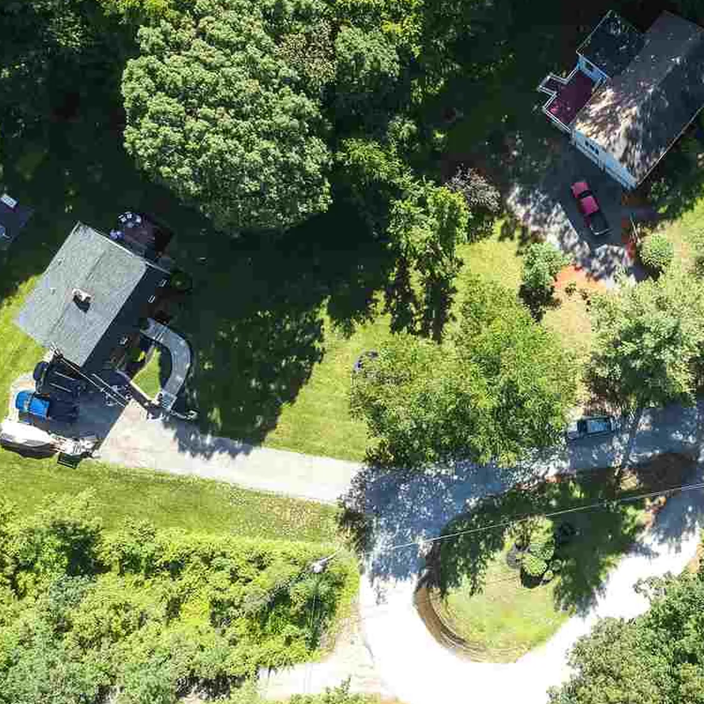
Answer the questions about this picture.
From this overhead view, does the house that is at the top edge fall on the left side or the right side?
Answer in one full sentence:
The house that is at the top edge appears in the right half of the scene.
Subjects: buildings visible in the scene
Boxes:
[539,8,704,189]
[13,221,169,368]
